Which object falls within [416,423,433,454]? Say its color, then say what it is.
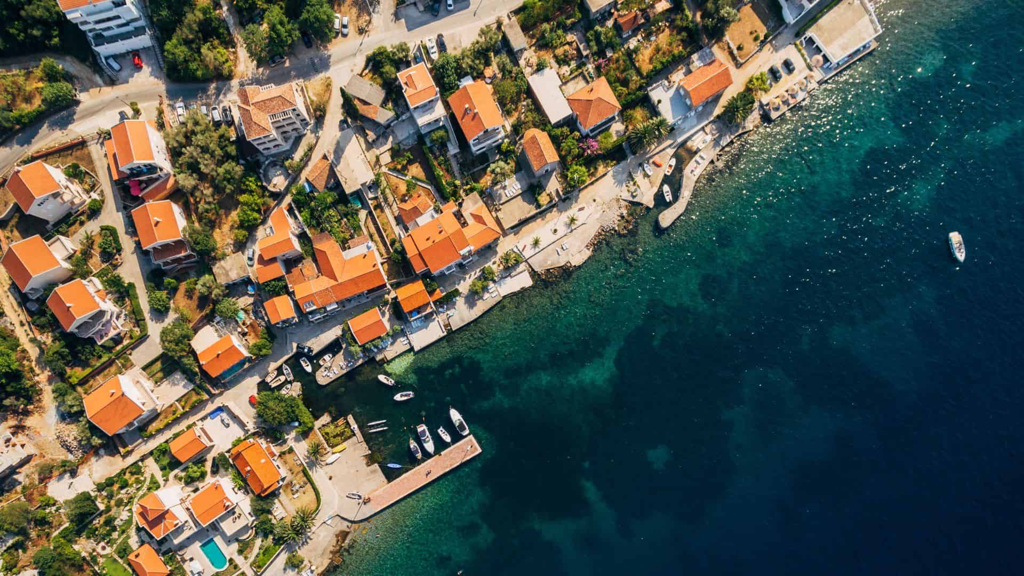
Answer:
white boat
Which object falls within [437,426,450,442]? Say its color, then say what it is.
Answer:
white boat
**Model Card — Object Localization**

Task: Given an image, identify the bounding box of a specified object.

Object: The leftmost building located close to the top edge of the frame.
[59,0,159,56]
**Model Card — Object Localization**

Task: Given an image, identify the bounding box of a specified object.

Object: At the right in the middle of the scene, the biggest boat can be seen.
[948,231,966,262]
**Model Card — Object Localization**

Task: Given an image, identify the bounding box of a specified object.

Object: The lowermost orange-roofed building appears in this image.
[127,542,175,576]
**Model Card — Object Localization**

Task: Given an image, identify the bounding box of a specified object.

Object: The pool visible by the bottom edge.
[196,535,228,572]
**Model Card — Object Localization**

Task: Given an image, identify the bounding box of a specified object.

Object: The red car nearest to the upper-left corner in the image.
[131,52,144,69]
